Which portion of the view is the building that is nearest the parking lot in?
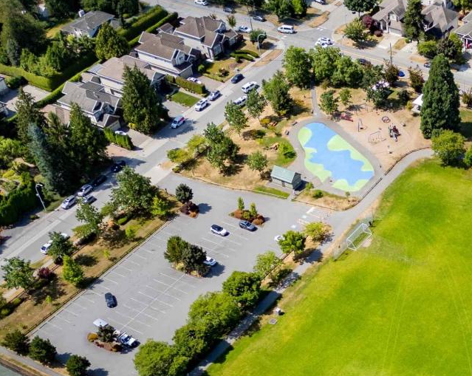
center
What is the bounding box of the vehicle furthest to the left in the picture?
[37,239,50,254]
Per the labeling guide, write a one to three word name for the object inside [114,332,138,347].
vehicle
